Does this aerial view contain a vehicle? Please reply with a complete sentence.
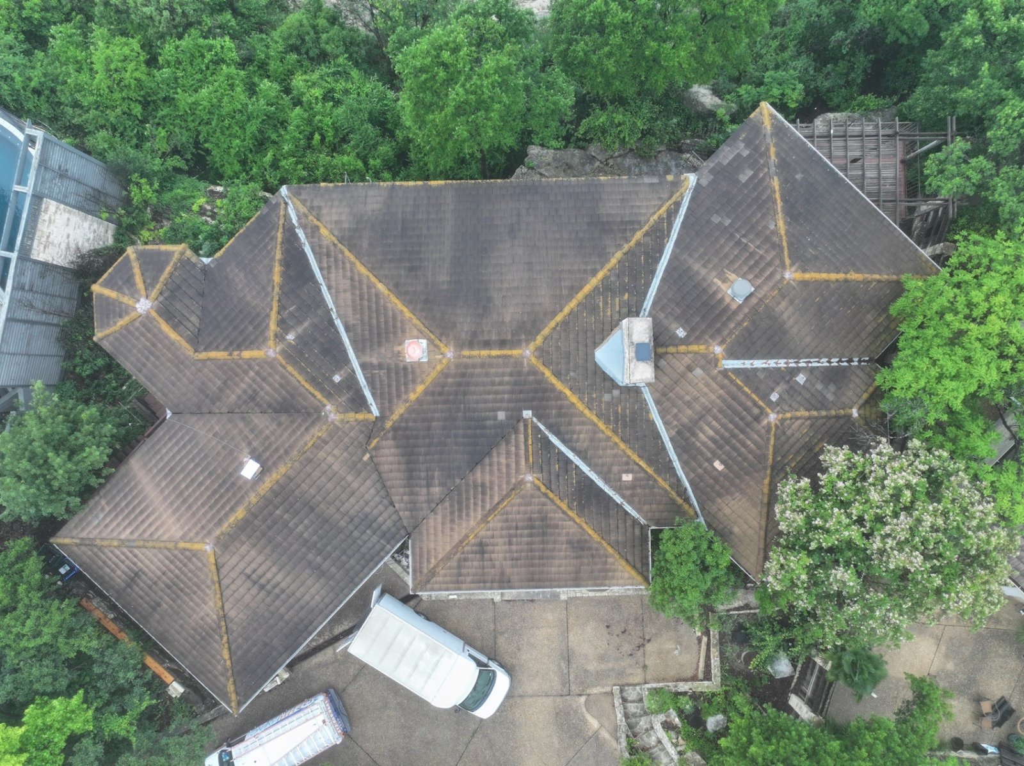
Yes, there is a vehicle in the image.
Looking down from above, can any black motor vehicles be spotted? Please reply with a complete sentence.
No, the frame has no black motor vehicle in it.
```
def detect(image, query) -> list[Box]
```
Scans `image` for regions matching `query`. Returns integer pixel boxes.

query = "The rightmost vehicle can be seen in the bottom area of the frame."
[329,569,507,717]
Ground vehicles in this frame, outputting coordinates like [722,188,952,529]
[329,569,507,717]
[215,677,359,766]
